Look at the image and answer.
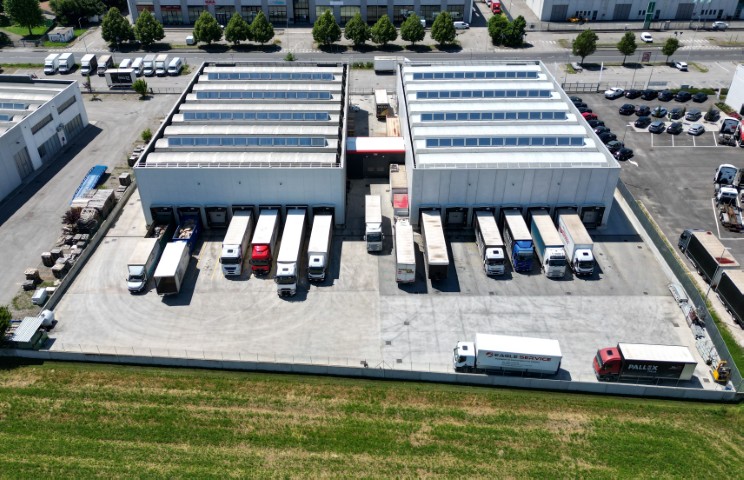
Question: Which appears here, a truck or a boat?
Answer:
truck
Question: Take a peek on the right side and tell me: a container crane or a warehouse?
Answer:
warehouse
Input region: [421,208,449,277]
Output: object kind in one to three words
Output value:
trailer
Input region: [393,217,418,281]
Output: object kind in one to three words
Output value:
truck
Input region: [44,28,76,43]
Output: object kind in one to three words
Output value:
shed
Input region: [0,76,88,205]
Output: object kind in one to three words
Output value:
building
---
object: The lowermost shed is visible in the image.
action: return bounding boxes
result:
[9,317,50,348]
